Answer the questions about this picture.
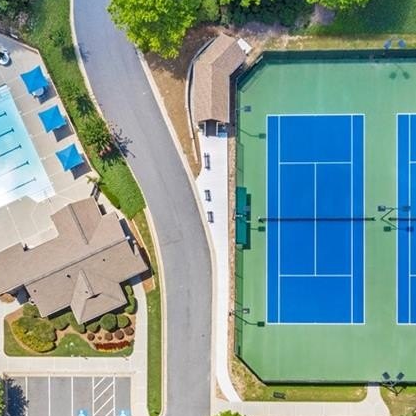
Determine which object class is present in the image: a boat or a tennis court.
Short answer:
tennis court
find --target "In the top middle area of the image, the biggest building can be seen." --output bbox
[193,33,247,126]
